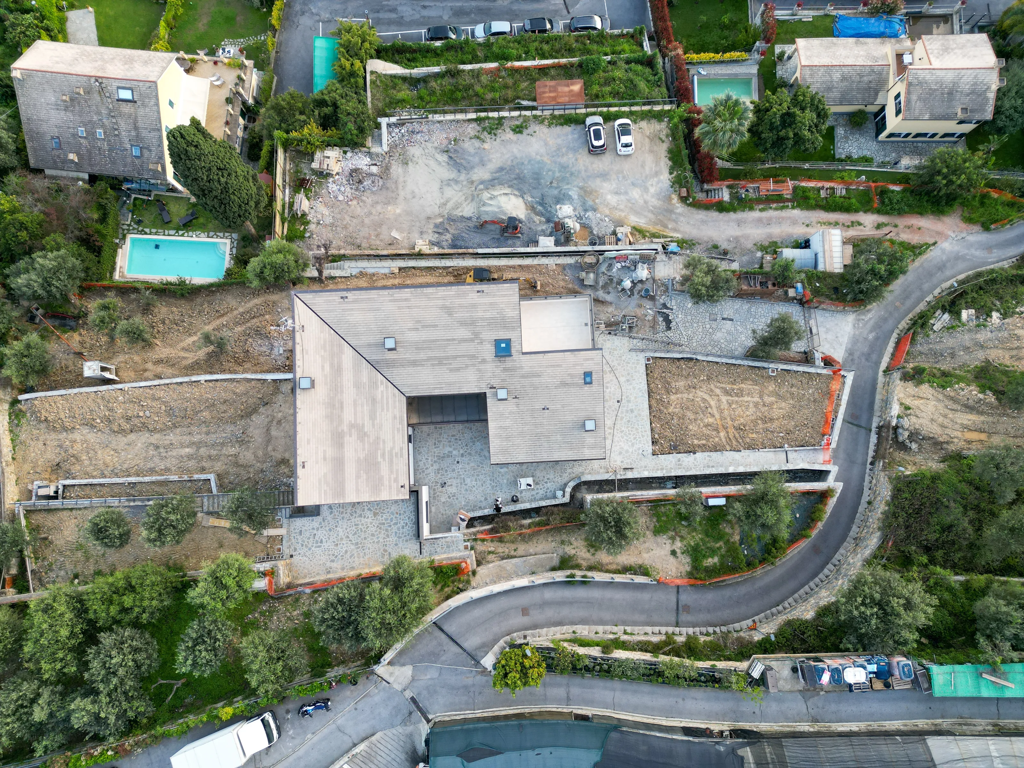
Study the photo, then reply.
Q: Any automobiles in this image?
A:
Yes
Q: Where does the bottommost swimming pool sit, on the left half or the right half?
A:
left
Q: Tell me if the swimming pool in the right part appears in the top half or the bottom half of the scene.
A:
top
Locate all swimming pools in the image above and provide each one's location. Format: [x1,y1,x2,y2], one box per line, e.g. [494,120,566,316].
[114,234,231,280]
[689,73,760,112]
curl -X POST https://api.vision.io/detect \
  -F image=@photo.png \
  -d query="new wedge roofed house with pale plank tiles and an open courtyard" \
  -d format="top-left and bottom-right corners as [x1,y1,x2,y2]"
[286,280,607,541]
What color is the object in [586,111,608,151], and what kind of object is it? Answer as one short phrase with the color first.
white car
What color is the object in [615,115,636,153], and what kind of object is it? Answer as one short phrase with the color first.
white car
